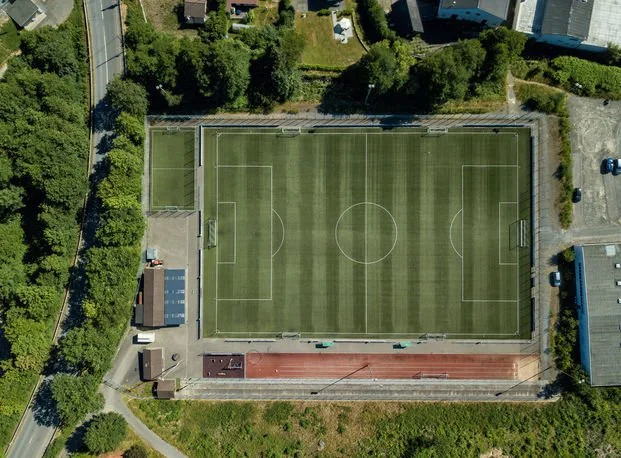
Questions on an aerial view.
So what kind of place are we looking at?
sports ground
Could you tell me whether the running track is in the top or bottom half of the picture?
bottom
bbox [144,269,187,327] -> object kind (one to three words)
building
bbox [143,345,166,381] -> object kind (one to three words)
house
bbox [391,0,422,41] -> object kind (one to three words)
barn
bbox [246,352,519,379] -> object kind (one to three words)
running track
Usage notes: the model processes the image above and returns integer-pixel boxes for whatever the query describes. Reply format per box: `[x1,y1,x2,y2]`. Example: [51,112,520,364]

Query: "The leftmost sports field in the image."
[151,129,195,209]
